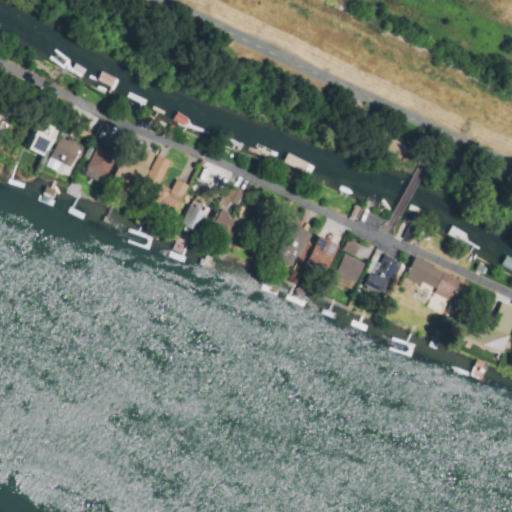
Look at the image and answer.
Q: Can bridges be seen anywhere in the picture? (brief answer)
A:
Yes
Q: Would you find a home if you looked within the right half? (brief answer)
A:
Yes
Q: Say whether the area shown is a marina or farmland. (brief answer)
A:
marina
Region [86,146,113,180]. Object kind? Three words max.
house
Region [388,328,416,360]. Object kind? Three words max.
pier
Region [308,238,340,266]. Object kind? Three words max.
house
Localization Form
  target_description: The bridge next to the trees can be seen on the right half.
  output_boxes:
[380,162,425,235]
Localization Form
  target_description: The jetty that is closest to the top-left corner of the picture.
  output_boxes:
[50,48,83,79]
